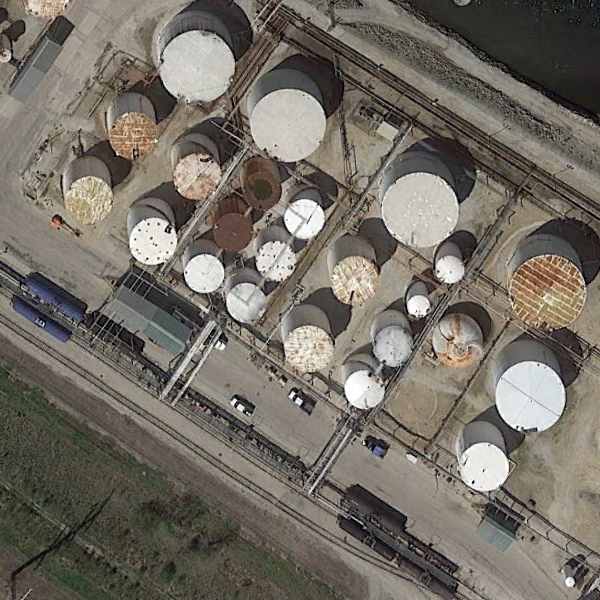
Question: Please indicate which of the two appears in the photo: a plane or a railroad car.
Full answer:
Of the two, only a railroad car appears.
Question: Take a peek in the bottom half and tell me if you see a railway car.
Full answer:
Yes, a railway car can be seen in the bottom half.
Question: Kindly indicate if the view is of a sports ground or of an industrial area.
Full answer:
What you see here is an industrial area.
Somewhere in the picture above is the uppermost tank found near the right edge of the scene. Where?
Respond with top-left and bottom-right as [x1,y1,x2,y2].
[502,231,587,330]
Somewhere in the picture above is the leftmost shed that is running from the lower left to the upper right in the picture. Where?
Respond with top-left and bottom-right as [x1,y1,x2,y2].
[10,29,62,102]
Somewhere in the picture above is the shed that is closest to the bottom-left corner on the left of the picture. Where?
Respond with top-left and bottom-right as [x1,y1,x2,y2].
[92,264,195,358]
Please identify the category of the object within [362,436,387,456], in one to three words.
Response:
vehicle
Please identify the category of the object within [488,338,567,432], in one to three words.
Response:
storage tank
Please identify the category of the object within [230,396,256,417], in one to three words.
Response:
truck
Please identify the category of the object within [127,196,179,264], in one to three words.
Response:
storage tank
